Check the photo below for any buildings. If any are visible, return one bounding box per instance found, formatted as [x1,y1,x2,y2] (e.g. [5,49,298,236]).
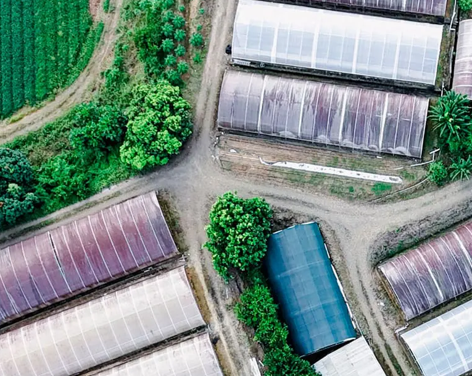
[0,191,181,326]
[378,221,472,321]
[311,336,386,376]
[0,266,205,376]
[269,222,361,356]
[451,20,472,100]
[217,68,430,161]
[92,334,222,376]
[400,300,472,376]
[231,0,444,89]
